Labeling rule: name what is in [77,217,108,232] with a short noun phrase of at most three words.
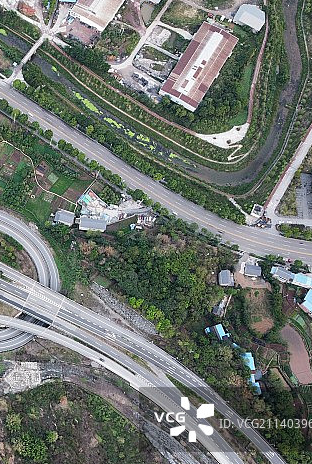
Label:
house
